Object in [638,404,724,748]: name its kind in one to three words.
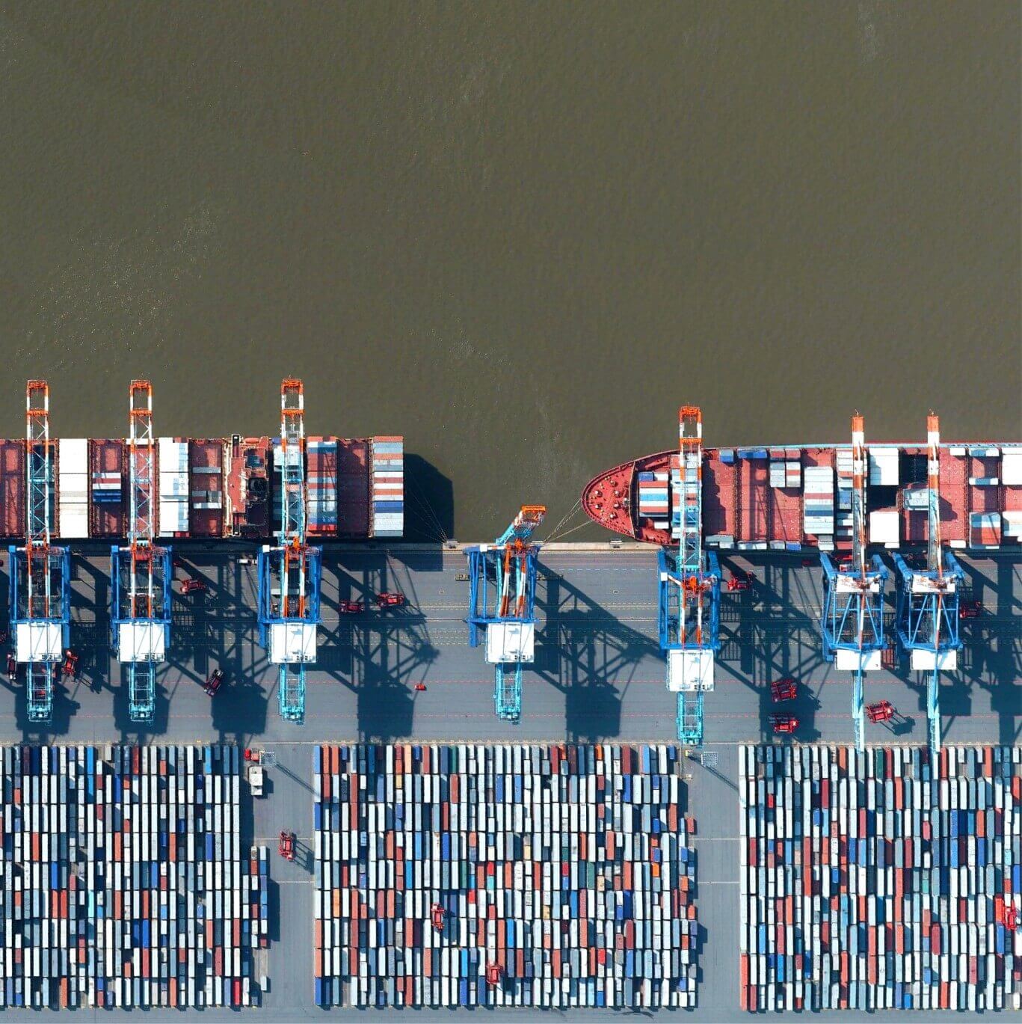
container crane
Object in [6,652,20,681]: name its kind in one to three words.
work vehicle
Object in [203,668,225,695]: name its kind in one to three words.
work vehicle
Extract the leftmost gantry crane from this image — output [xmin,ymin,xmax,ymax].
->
[5,378,88,724]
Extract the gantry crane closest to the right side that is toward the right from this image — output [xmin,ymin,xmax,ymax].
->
[882,414,965,754]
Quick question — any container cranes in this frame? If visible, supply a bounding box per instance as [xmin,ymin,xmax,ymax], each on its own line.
[638,404,724,748]
[799,415,889,754]
[105,378,189,724]
[5,378,88,724]
[455,507,542,724]
[882,414,965,754]
[249,378,333,724]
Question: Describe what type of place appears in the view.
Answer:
port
